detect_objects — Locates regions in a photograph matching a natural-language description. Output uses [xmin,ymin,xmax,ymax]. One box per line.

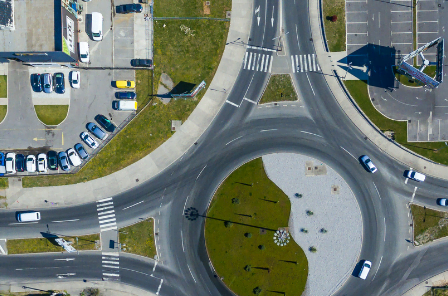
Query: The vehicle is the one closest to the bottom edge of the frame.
[358,259,372,280]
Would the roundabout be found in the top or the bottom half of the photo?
bottom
